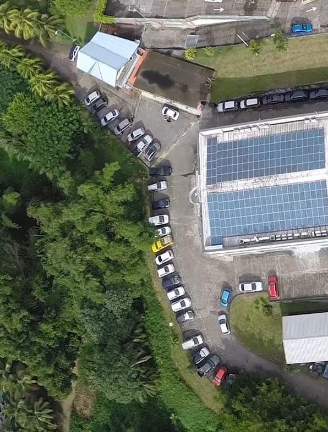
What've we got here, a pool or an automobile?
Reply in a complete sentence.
There is an automobile in the scene.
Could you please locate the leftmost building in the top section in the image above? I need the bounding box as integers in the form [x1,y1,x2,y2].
[77,32,140,87]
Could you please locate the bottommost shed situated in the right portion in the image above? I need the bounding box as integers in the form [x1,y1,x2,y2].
[283,311,328,364]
